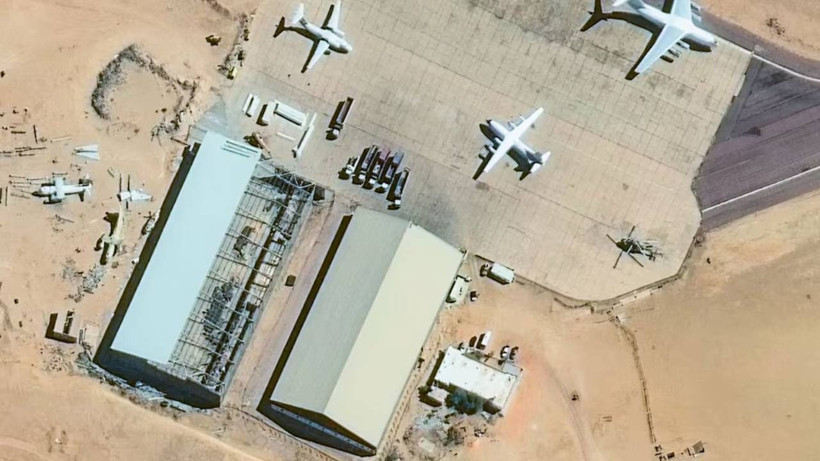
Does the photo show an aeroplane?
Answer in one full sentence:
Yes, an aeroplane can be made out from above.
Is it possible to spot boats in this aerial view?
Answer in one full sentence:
No, the frame has no boat in it.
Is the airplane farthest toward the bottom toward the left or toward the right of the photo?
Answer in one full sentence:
The airplane farthest toward the bottom is on the left side of the image.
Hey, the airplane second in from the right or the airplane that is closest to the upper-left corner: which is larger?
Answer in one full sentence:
The airplane that is closest to the upper-left corner is smaller than the airplane second in from the right.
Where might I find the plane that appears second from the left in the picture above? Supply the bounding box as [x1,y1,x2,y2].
[100,198,127,259]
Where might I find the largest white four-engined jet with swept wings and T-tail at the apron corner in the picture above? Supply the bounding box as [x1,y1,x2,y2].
[612,0,717,70]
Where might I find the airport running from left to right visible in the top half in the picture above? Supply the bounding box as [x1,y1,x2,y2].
[186,0,820,302]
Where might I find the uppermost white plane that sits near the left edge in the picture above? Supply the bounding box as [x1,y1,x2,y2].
[41,174,92,210]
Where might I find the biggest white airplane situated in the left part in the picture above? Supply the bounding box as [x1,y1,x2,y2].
[292,2,352,66]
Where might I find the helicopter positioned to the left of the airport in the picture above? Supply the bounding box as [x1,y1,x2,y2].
[144,207,160,236]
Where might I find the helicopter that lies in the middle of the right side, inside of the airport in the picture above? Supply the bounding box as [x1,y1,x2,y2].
[617,219,664,259]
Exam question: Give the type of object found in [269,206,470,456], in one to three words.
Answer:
hangar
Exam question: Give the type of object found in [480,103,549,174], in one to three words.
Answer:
airplane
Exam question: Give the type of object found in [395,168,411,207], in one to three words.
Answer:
vehicle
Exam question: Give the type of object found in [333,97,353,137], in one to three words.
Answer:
vehicle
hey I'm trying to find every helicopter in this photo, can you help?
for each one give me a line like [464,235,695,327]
[144,207,160,236]
[617,219,664,259]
